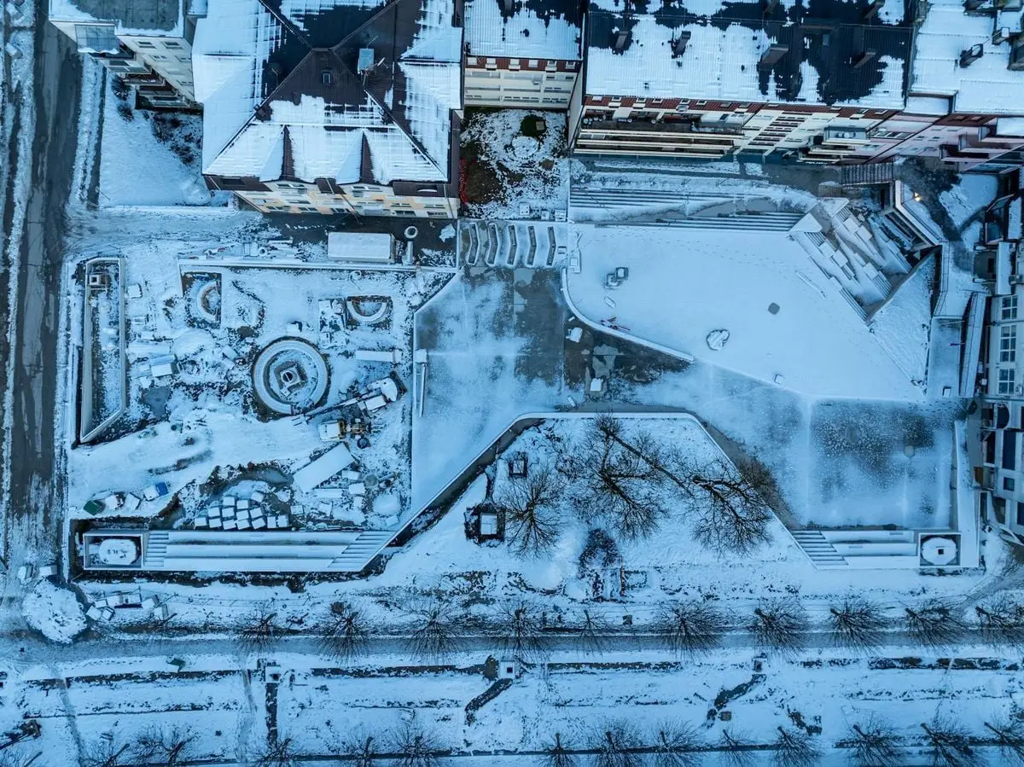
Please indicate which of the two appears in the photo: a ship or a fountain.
fountain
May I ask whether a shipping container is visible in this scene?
Yes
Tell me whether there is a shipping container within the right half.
No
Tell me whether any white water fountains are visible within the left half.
No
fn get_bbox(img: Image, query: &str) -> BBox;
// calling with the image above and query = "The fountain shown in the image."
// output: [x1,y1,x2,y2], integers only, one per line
[252,338,331,417]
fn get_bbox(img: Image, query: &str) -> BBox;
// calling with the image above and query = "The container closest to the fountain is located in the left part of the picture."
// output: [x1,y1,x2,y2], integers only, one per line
[326,232,397,265]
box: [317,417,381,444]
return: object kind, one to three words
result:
work vehicle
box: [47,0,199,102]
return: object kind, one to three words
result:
building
